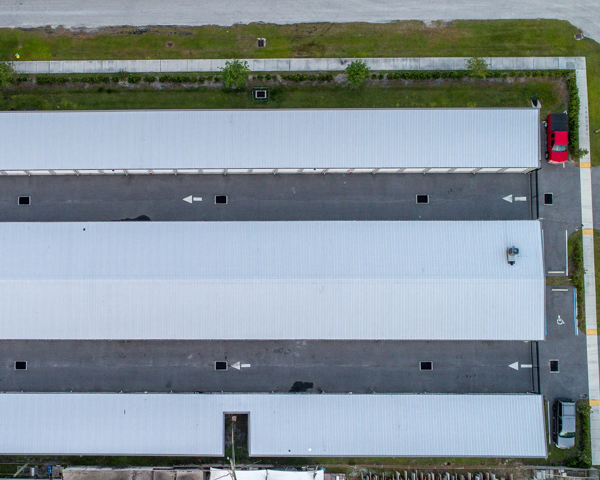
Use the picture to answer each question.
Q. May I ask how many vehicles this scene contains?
2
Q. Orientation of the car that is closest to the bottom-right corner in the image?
from top to bottom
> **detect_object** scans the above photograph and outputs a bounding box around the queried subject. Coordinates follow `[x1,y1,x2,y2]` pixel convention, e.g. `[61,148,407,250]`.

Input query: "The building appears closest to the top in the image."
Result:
[0,107,541,178]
